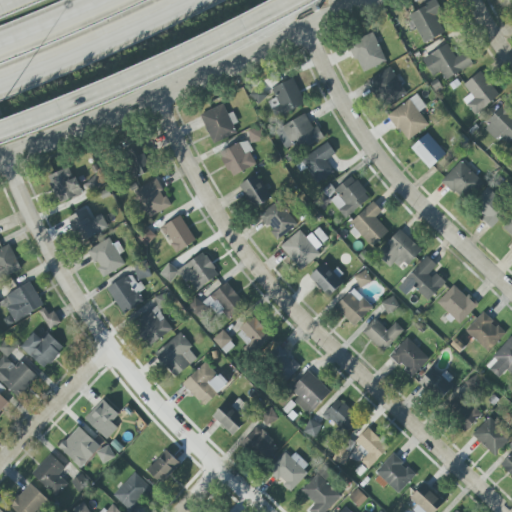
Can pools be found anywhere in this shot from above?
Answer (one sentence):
Yes, the frame does contain a pool.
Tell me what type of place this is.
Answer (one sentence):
This image shows a residential area.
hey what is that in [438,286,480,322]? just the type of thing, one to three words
house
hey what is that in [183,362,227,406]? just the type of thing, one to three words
house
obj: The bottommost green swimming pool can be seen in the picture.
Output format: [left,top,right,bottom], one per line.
[437,348,453,370]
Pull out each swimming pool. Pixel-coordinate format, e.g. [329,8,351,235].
[352,240,364,252]
[122,431,133,442]
[340,252,352,264]
[437,348,453,370]
[360,281,385,302]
